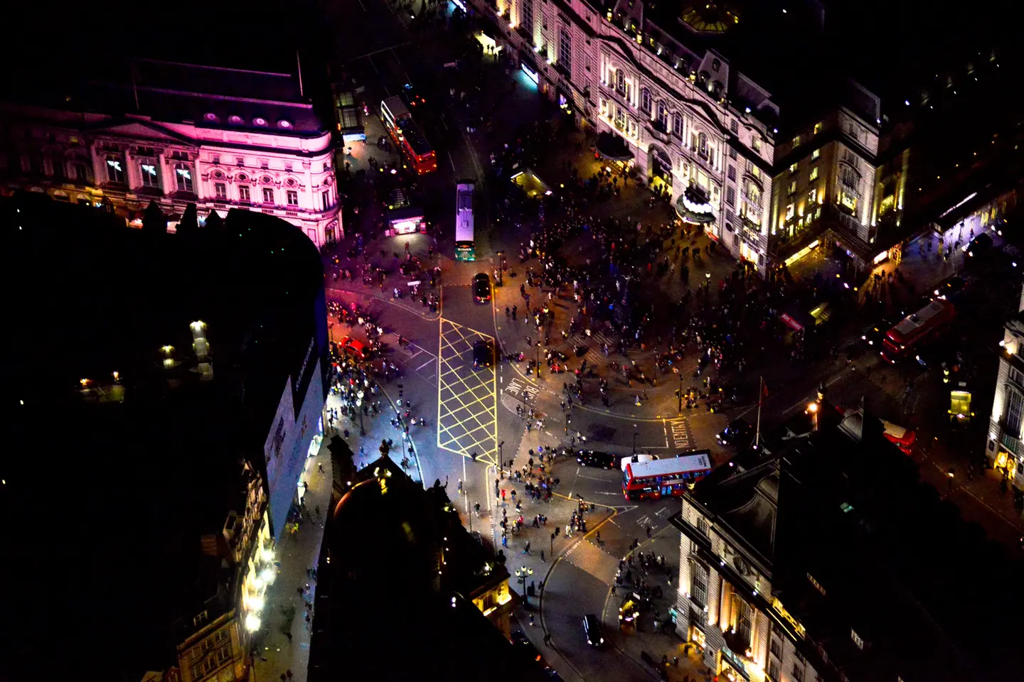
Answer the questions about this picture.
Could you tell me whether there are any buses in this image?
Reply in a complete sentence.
Yes, this view includes a bus.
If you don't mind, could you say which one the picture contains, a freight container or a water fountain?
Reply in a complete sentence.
There is a water fountain in the scene.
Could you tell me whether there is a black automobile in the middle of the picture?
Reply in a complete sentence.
Yes, looking in the middle of the picture, one can make out a black automobile.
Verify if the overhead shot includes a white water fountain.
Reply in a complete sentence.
No, there is no white water fountain in the image.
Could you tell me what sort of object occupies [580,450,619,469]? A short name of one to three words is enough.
car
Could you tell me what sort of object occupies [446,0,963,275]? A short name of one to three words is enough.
building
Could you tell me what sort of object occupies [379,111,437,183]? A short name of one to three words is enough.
bus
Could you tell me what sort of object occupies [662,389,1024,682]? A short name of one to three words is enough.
building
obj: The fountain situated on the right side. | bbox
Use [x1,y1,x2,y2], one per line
[589,276,646,342]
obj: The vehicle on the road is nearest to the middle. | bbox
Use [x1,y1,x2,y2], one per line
[475,341,493,367]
